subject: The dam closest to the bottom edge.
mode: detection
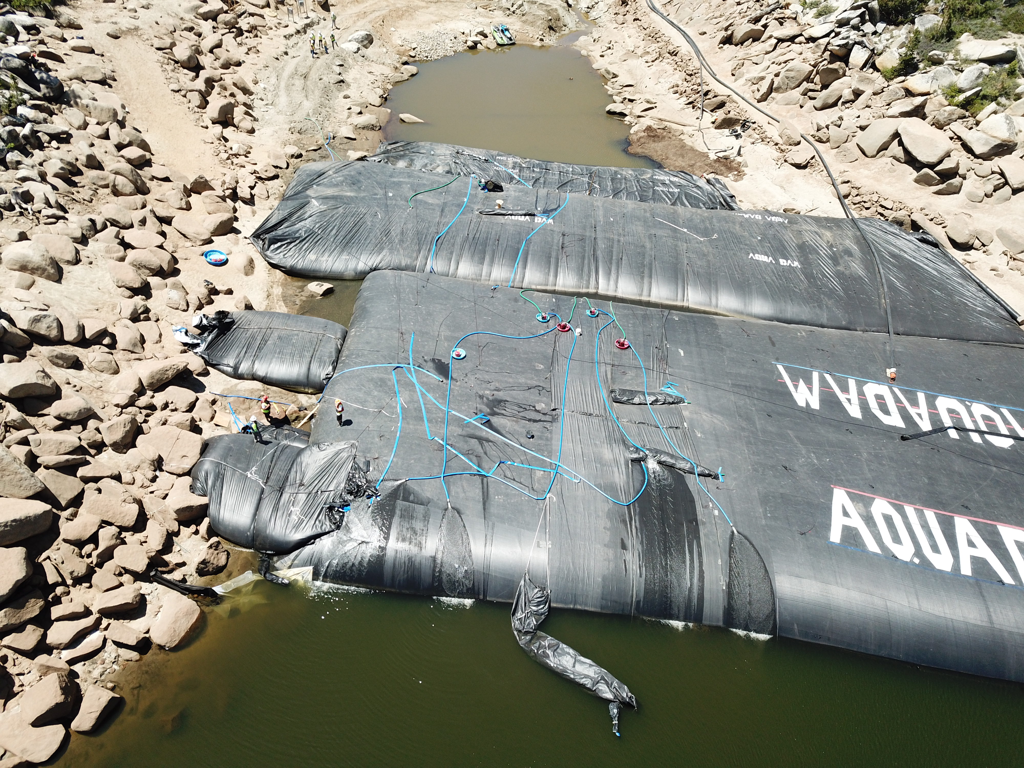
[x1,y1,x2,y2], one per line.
[274,270,1024,684]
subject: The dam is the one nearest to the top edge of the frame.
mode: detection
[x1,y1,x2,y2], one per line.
[368,136,739,216]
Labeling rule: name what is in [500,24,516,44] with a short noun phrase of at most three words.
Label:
boat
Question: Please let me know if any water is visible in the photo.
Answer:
Yes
